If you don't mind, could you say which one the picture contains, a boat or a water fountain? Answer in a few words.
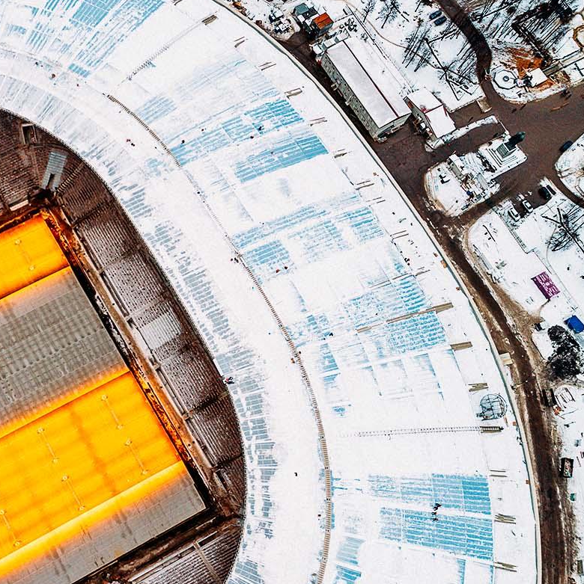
water fountain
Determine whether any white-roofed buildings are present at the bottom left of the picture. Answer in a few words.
No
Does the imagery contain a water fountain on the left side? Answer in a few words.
No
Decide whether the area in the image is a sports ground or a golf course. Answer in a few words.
sports ground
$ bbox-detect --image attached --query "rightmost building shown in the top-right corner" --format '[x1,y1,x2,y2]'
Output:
[522,68,547,92]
